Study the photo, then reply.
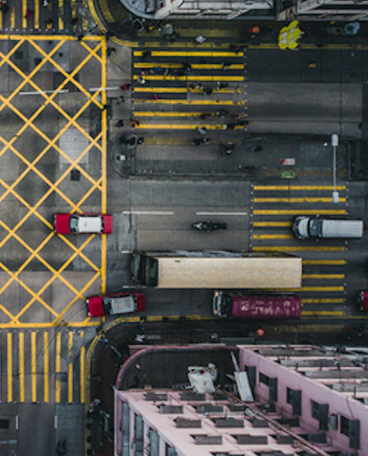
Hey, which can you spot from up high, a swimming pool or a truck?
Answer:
truck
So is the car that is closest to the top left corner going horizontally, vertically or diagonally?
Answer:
horizontally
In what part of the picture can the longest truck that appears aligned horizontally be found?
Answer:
center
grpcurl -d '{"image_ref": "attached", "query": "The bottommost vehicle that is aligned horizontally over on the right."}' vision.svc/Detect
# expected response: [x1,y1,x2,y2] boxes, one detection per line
[211,290,315,323]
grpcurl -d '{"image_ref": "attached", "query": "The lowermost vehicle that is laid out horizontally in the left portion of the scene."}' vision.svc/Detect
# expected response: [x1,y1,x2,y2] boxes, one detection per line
[84,292,147,320]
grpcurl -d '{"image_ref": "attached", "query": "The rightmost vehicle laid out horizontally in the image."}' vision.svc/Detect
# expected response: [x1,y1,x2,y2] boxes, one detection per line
[292,214,367,242]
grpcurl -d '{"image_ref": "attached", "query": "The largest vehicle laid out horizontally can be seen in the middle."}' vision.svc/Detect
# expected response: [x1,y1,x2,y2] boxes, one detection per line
[115,251,303,288]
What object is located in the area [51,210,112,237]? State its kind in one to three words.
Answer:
car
